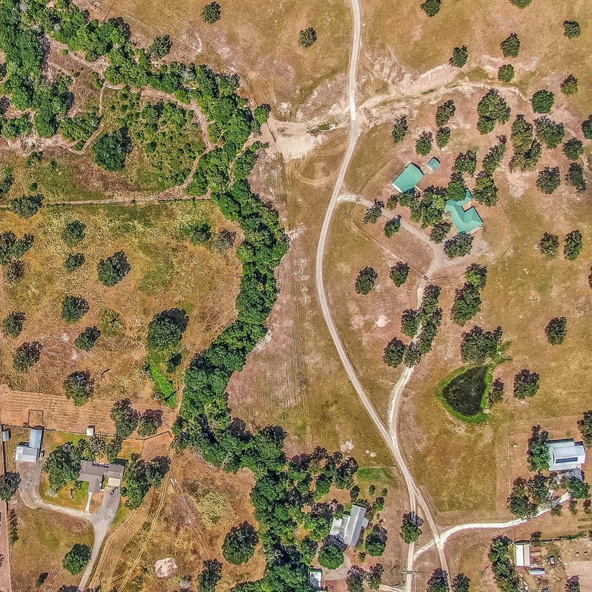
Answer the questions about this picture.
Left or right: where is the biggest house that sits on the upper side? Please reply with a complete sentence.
You can find the biggest house that sits on the upper side on the right side of the picture.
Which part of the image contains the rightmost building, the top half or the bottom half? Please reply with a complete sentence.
It is in the bottom half that the rightmost building appears.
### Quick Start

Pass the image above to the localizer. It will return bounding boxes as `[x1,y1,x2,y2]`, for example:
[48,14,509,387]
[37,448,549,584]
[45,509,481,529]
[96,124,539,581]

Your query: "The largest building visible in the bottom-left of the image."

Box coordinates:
[80,458,125,495]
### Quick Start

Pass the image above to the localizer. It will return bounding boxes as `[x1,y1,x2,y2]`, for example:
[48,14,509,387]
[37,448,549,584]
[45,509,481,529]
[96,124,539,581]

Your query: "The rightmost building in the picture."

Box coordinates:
[544,440,588,472]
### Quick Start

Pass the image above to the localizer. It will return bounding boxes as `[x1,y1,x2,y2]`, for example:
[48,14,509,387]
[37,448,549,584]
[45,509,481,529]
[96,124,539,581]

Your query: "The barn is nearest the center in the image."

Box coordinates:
[389,160,425,194]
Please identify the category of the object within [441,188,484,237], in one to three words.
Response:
house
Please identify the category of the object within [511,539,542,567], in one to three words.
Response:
barn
